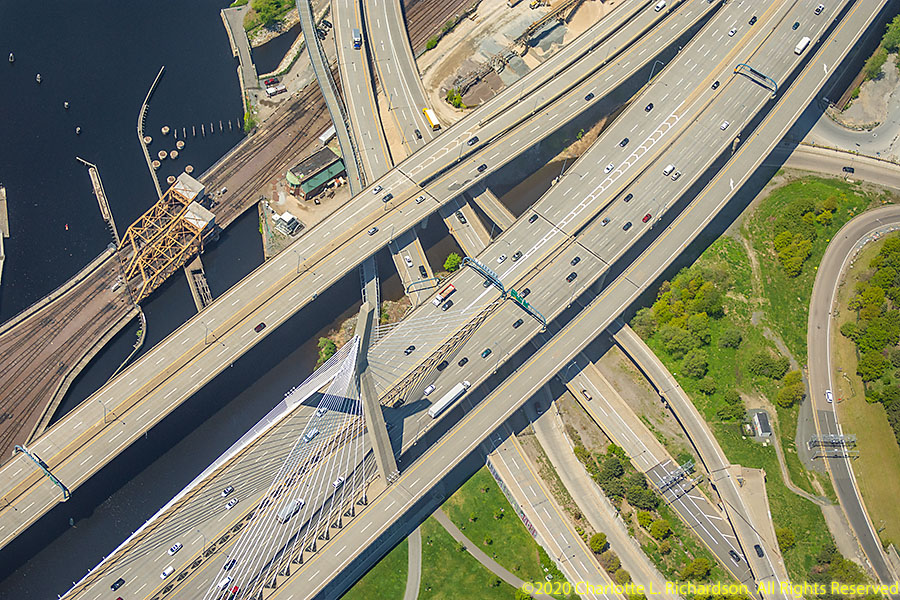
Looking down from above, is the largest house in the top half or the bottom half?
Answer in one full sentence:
Seen from above, the largest house lies in the top half of the view.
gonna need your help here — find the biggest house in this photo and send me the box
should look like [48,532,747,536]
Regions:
[283,146,345,203]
